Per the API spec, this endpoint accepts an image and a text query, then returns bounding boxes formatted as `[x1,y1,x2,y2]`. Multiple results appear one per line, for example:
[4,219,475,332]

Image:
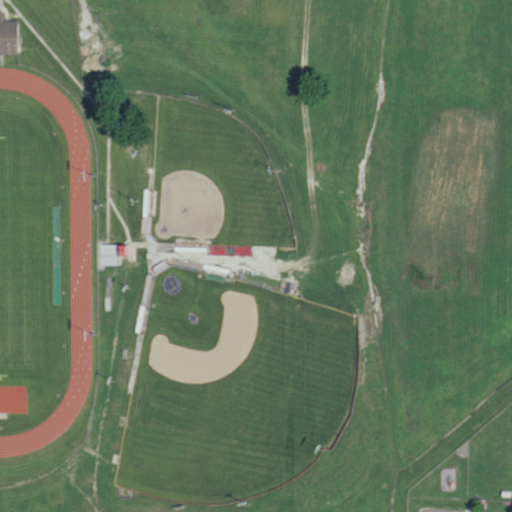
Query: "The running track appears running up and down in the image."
[0,70,91,458]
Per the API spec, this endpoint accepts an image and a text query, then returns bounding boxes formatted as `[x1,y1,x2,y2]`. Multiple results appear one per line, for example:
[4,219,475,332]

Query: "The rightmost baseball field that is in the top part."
[150,95,298,250]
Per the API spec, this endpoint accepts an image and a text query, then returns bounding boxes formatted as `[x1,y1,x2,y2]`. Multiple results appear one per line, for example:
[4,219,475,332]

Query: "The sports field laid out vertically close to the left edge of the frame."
[0,90,70,436]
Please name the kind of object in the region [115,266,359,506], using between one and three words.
baseball field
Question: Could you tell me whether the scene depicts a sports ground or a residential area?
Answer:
sports ground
